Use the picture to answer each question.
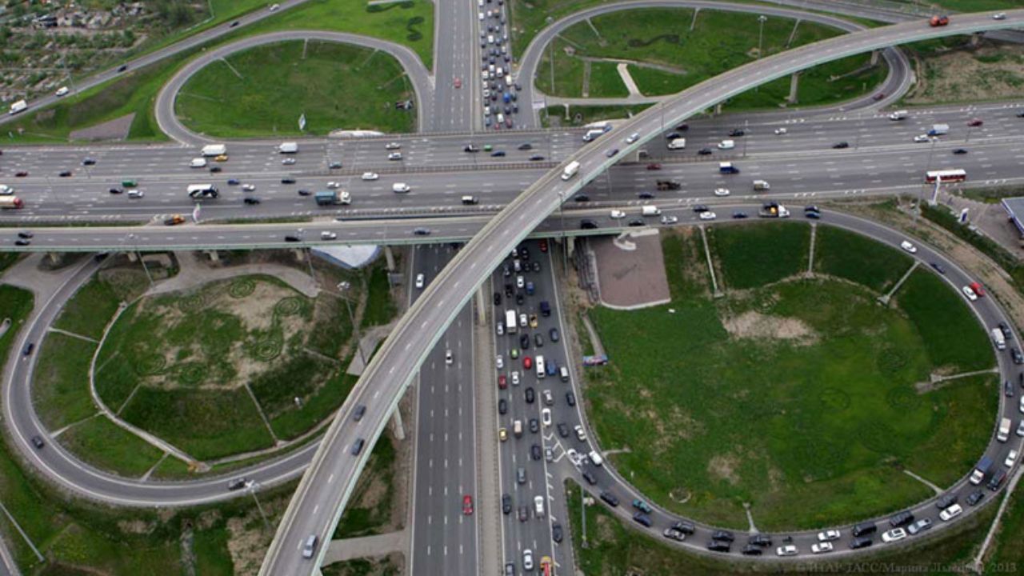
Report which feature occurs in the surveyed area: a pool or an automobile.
automobile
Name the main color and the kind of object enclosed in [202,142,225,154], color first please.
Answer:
white vehicle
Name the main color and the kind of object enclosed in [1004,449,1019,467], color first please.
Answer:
white car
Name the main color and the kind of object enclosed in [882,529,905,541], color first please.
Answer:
white vehicle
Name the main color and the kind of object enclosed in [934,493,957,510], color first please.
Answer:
gray car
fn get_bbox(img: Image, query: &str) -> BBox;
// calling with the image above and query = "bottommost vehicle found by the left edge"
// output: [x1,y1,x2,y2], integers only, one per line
[31,435,45,448]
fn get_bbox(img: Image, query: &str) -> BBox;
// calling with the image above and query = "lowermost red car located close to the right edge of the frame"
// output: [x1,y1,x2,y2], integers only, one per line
[968,280,985,295]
